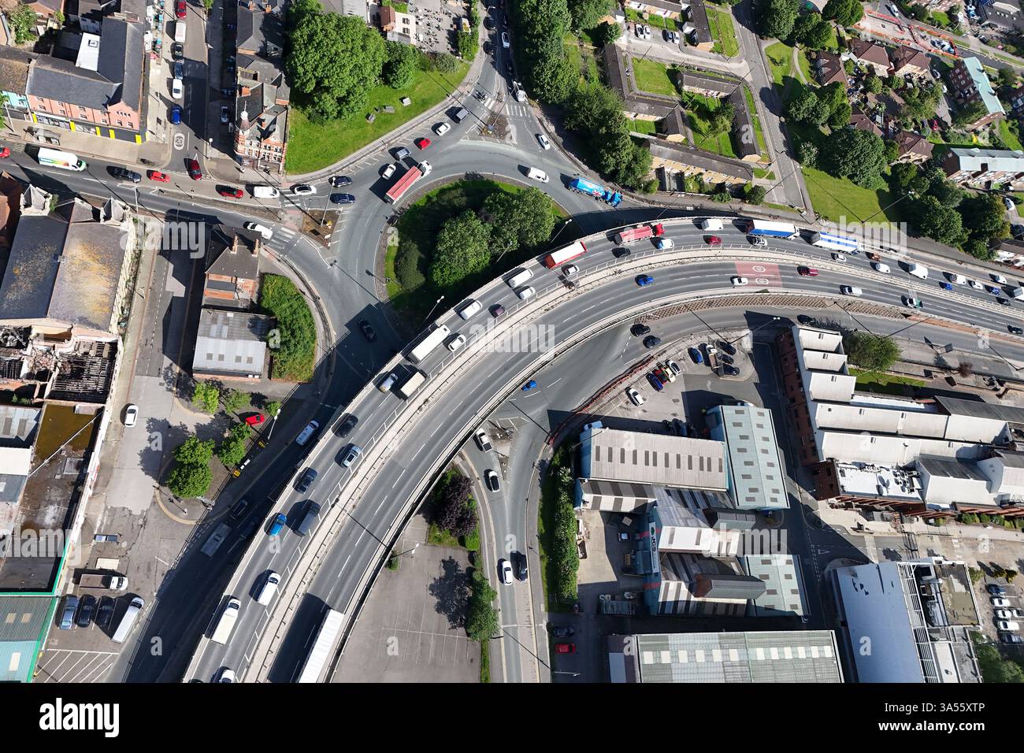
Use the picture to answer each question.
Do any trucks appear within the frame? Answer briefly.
Yes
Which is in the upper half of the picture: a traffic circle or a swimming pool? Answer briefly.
traffic circle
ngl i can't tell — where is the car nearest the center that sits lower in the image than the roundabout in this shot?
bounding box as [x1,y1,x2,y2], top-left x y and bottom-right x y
[520,379,539,393]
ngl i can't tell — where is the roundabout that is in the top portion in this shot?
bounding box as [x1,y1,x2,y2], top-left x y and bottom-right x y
[373,173,586,352]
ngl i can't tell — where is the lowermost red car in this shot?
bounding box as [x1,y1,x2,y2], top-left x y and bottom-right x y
[554,642,575,654]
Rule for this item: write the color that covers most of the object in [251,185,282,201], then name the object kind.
white vehicle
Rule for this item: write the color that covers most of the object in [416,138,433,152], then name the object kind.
red car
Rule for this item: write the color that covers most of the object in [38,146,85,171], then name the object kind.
white vehicle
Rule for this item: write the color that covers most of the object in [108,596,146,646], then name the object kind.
white van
